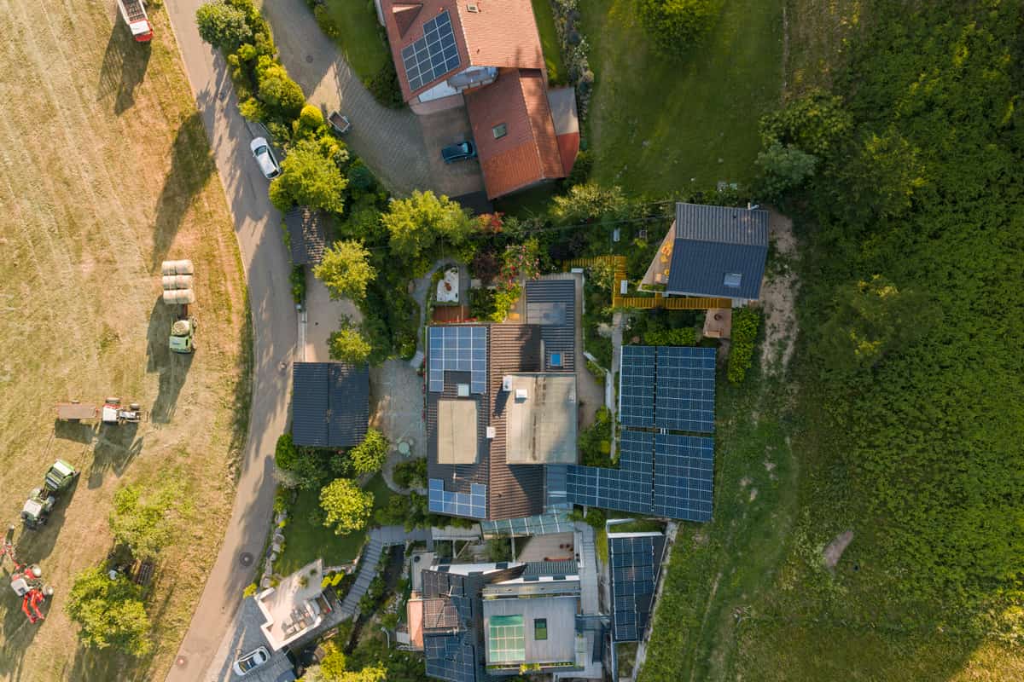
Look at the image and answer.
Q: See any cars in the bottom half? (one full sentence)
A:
Yes, a car appears in the bottom half.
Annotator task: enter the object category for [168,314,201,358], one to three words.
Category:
work vehicle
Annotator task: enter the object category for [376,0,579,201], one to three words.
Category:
house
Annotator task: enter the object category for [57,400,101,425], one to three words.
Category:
trailer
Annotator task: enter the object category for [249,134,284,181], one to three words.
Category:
car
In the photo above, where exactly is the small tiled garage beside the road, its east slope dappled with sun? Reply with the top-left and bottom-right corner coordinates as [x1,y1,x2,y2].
[285,207,328,266]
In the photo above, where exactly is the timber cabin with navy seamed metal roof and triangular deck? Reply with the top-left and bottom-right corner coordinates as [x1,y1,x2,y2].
[638,198,769,308]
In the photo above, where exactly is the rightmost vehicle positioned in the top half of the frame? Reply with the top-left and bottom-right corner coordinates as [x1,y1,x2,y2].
[441,138,479,162]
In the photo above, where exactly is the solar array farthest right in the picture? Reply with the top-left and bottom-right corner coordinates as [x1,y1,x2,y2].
[612,538,655,639]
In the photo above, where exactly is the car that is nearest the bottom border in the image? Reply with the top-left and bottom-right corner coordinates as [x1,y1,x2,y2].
[232,646,272,677]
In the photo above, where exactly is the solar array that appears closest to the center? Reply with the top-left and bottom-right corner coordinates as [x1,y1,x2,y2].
[428,328,485,393]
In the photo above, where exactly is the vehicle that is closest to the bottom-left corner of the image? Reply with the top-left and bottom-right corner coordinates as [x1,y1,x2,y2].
[10,564,57,616]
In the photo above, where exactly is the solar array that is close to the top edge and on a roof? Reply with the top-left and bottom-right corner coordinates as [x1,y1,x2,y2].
[402,10,459,91]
